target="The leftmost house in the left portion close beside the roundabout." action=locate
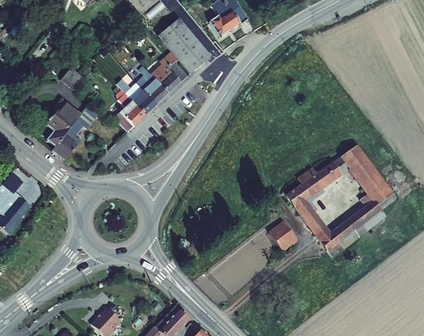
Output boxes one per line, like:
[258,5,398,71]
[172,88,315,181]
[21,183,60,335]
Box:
[0,174,39,235]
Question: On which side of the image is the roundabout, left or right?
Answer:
left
